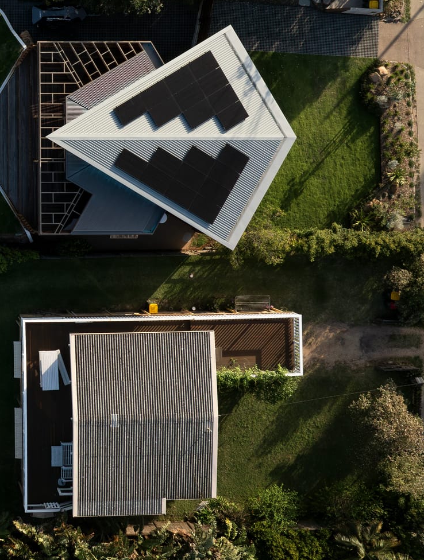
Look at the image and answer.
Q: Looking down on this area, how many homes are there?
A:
two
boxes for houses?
[13,307,303,518]
[30,26,296,249]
